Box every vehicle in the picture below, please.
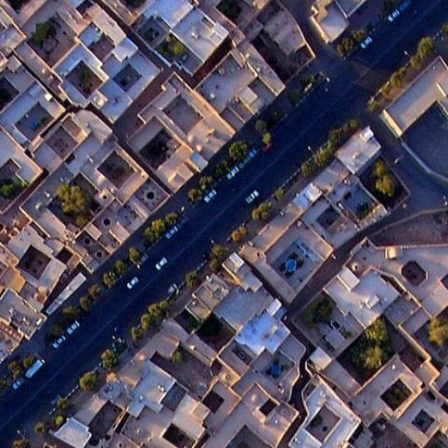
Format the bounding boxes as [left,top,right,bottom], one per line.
[166,226,179,239]
[237,157,251,169]
[126,276,140,289]
[247,146,258,158]
[67,322,80,335]
[204,190,217,202]
[25,359,47,379]
[246,190,259,203]
[167,282,180,295]
[227,167,239,180]
[398,0,411,11]
[53,336,66,349]
[359,36,372,49]
[12,377,25,390]
[260,141,273,154]
[155,257,168,270]
[388,9,400,21]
